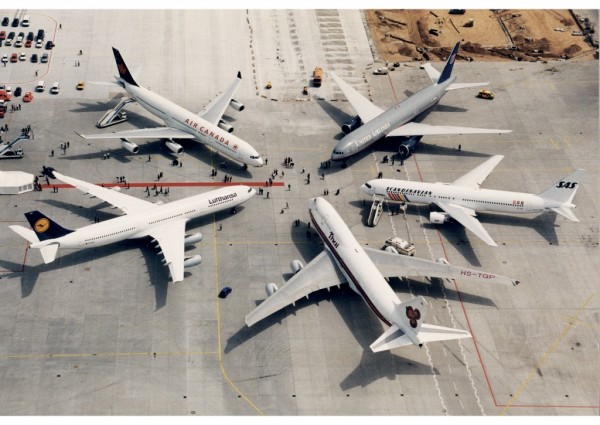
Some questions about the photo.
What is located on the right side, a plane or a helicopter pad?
plane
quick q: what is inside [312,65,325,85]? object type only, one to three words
vehicle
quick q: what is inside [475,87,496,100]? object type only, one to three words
vehicle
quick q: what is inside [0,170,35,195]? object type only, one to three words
tent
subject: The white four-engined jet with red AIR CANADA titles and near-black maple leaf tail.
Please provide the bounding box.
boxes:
[73,47,270,172]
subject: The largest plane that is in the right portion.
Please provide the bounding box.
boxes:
[244,196,519,353]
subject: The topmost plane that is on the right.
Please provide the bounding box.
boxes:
[332,40,516,166]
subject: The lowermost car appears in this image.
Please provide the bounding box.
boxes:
[216,285,233,298]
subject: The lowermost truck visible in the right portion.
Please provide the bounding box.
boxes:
[384,237,417,259]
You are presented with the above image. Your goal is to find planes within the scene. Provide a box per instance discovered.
[360,154,585,246]
[73,47,270,172]
[244,196,519,353]
[332,40,516,166]
[7,167,257,284]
